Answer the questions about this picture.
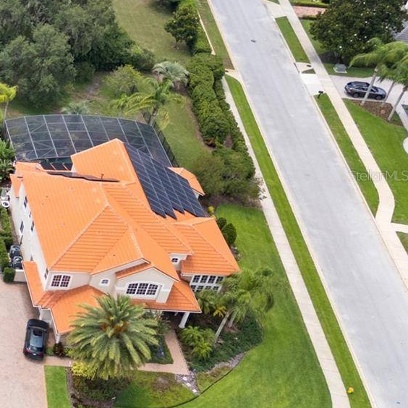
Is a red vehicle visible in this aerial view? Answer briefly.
No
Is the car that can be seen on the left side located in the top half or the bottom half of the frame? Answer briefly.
bottom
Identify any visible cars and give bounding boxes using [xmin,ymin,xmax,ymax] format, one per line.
[342,76,387,97]
[24,318,52,362]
